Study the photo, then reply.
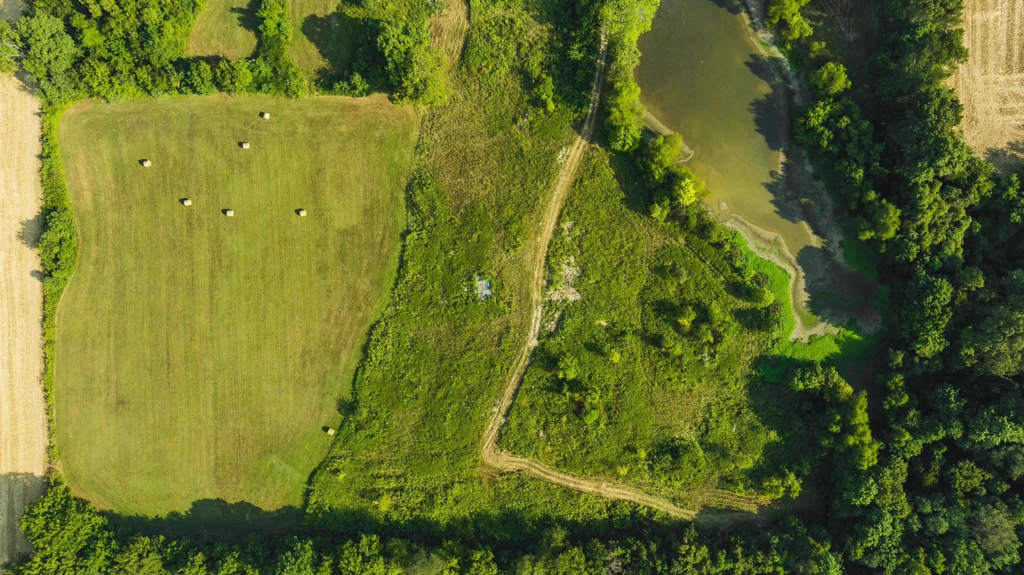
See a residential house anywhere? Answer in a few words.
No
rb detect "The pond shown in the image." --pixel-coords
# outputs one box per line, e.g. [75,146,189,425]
[635,0,821,289]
